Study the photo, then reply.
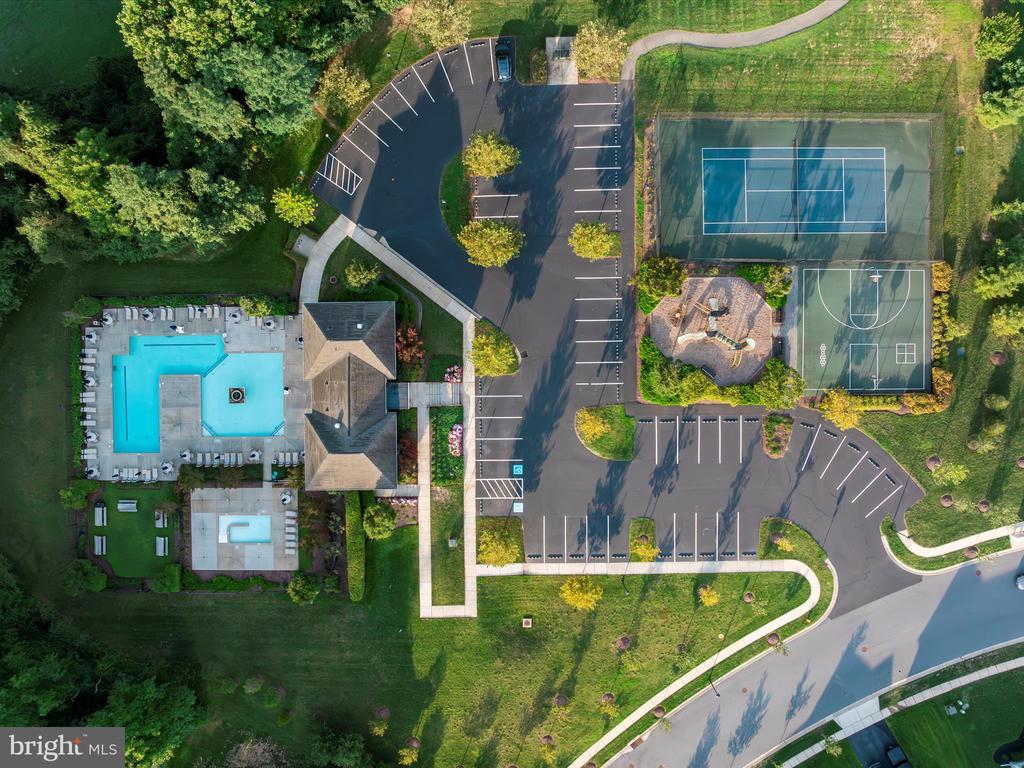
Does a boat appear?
No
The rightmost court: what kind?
basketball court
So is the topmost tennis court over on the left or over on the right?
right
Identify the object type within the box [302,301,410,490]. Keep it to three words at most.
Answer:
building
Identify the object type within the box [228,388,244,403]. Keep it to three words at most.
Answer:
fountain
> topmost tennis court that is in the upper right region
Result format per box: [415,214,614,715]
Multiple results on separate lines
[657,118,931,262]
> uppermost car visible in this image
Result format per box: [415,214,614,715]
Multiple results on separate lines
[495,43,513,83]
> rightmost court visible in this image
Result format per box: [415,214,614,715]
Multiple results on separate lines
[797,263,932,394]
